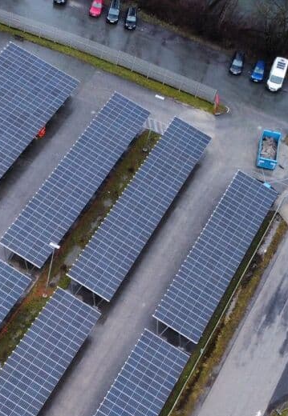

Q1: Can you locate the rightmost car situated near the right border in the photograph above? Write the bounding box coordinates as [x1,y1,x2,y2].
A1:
[267,58,288,91]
